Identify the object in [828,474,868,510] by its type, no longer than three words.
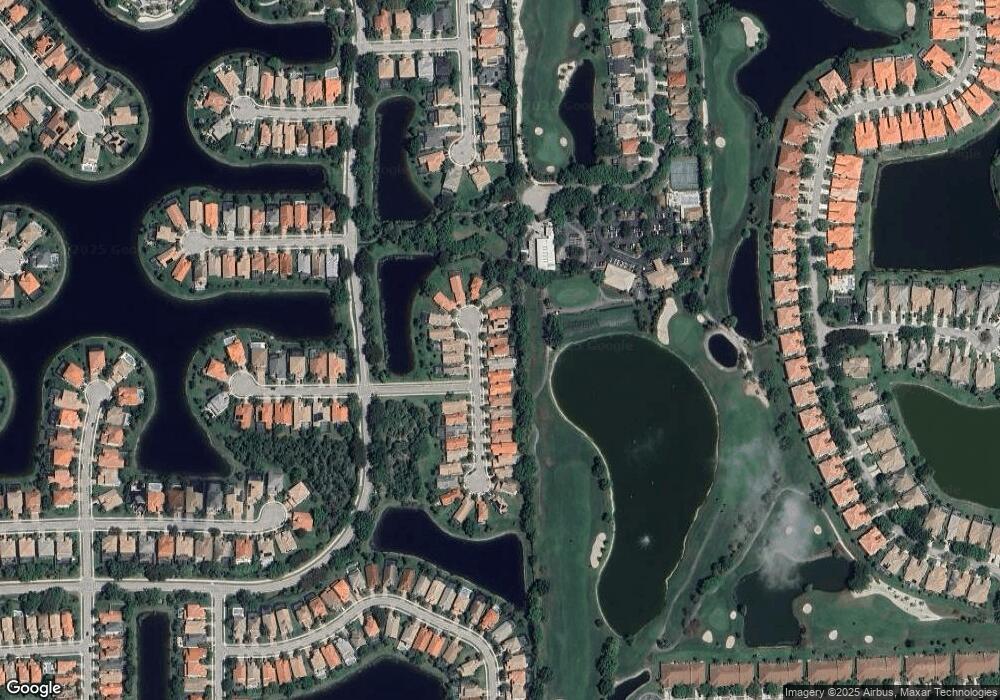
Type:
house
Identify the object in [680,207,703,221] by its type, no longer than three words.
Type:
building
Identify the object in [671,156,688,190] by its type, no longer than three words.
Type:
tennis court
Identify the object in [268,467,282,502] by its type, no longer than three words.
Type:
house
